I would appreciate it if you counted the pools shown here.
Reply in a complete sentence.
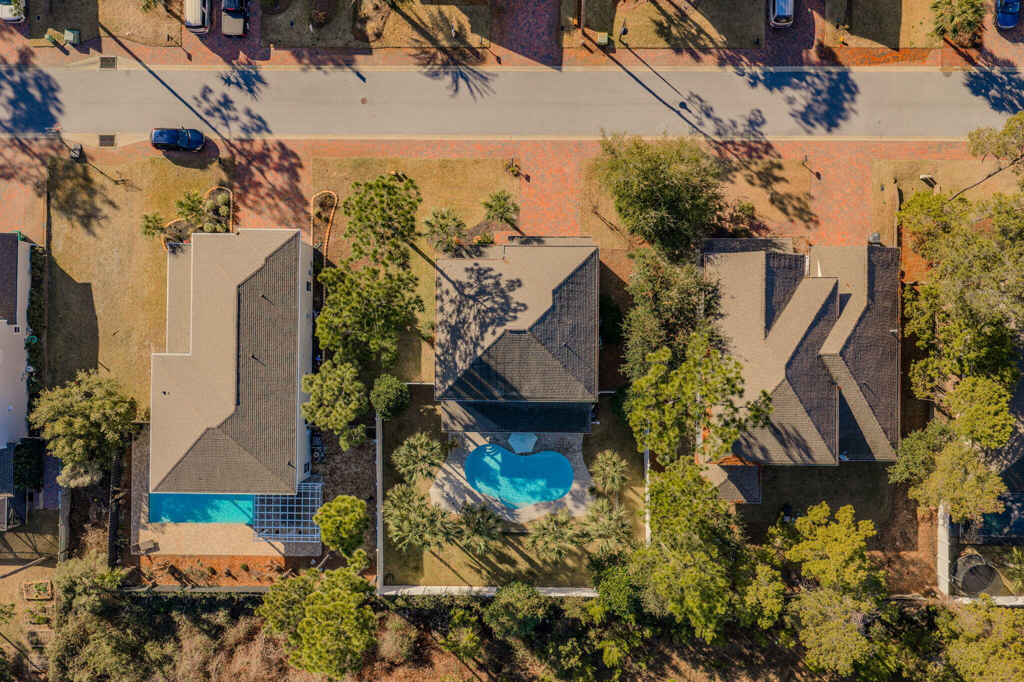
The number of pools here is 2.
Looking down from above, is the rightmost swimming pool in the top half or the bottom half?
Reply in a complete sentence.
You can find the rightmost swimming pool in the bottom half.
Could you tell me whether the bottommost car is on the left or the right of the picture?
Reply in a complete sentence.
The bottommost car appears in the left half of the scene.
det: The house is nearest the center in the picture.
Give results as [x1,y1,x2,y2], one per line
[432,236,599,433]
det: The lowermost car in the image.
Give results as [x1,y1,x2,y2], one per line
[149,126,205,153]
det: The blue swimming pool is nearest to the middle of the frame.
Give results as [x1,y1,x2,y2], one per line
[462,441,576,512]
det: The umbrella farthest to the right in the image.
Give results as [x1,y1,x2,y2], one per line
[508,433,537,458]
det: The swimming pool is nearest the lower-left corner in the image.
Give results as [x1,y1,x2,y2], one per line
[147,475,257,526]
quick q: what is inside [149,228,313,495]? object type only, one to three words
house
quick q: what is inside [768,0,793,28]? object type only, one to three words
car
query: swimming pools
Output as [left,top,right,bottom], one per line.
[147,475,257,526]
[462,441,576,512]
